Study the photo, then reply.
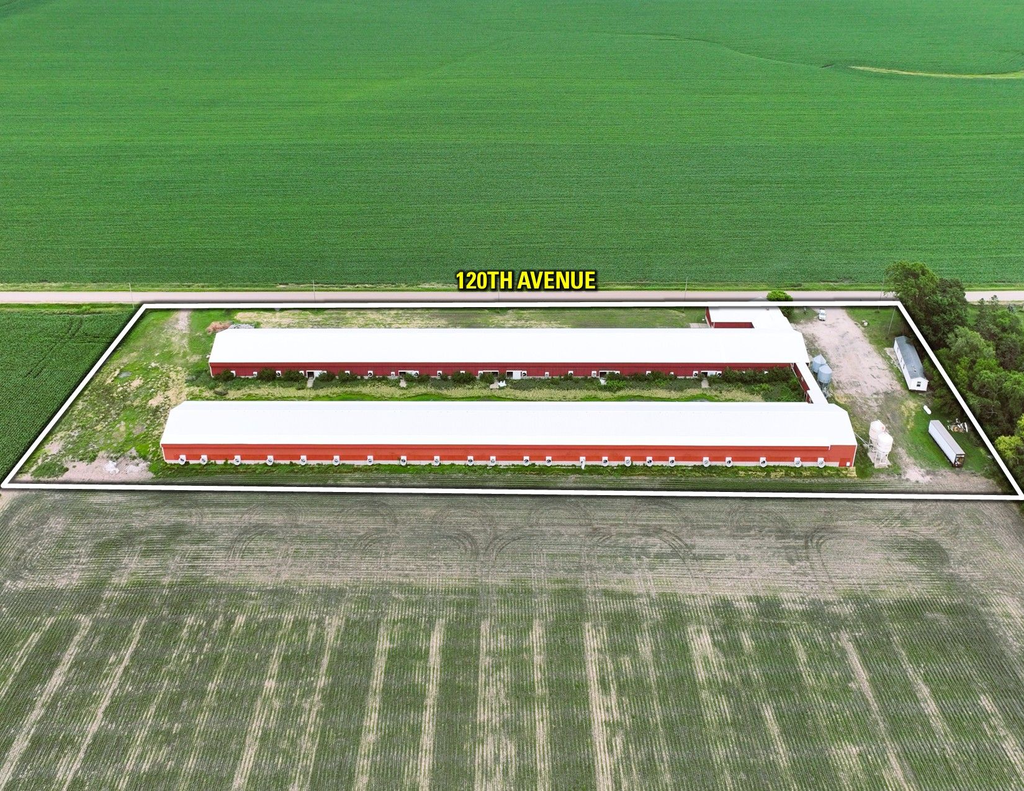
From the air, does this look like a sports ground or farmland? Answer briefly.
farmland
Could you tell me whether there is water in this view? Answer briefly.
No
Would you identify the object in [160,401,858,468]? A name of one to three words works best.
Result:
barn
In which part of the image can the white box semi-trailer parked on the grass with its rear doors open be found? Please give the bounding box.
[928,420,965,465]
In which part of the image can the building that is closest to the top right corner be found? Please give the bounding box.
[896,340,930,390]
